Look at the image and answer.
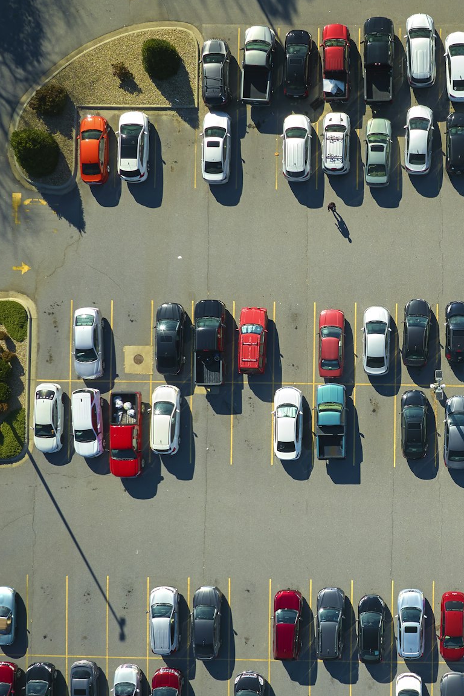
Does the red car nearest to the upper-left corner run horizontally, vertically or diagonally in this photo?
vertically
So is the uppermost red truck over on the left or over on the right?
right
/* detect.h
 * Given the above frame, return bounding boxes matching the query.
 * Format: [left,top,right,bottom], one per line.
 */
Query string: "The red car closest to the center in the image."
[236,307,268,373]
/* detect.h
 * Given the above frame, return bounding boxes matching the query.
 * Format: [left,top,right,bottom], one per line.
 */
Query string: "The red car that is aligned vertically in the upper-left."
[76,116,109,184]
